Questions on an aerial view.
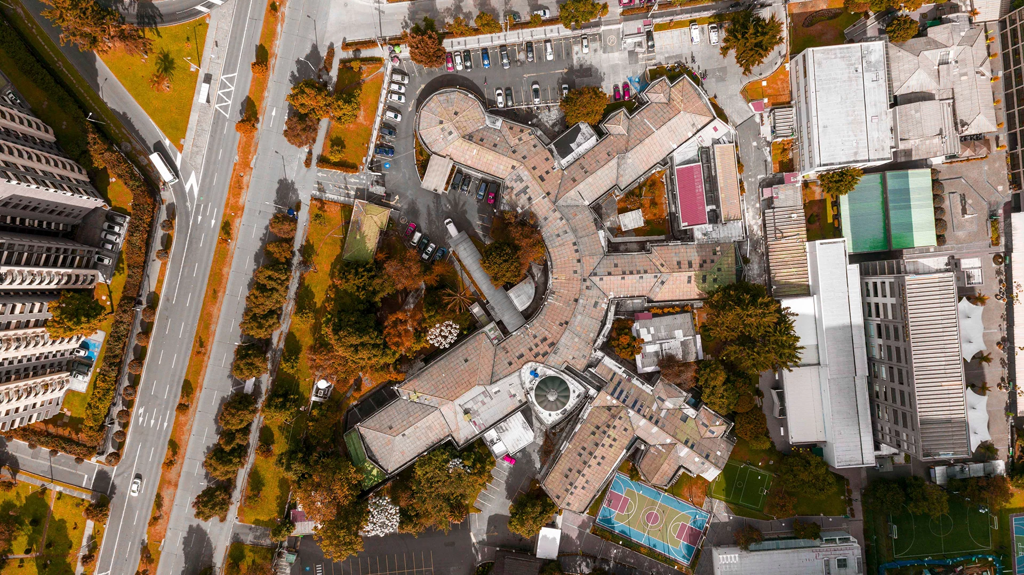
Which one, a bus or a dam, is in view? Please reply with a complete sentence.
Visible in the photo is a bus.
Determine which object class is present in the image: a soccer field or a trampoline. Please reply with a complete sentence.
It is a soccer field that can be seen here.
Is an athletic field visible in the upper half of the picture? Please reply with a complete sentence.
No, no athletic field can be made out in the upper half of the picture.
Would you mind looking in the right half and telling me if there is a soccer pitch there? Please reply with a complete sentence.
Yes, there is a soccer pitch in the right half.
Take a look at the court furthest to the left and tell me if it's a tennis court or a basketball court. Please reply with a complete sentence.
The court furthest to the left is a basketball court.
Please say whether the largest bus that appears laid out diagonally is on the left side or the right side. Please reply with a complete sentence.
It is on the left.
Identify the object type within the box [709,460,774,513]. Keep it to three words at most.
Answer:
sports field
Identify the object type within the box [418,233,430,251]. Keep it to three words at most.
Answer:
vehicle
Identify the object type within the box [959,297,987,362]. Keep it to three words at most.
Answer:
tent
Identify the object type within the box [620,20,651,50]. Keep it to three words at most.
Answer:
building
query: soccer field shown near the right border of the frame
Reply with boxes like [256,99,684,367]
[891,479,1013,573]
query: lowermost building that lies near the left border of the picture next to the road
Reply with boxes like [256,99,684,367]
[0,229,104,430]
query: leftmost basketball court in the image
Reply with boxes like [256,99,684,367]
[594,473,711,567]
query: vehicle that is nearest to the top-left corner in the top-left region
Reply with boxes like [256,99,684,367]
[5,92,23,108]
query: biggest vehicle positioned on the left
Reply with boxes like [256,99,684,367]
[149,150,183,189]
